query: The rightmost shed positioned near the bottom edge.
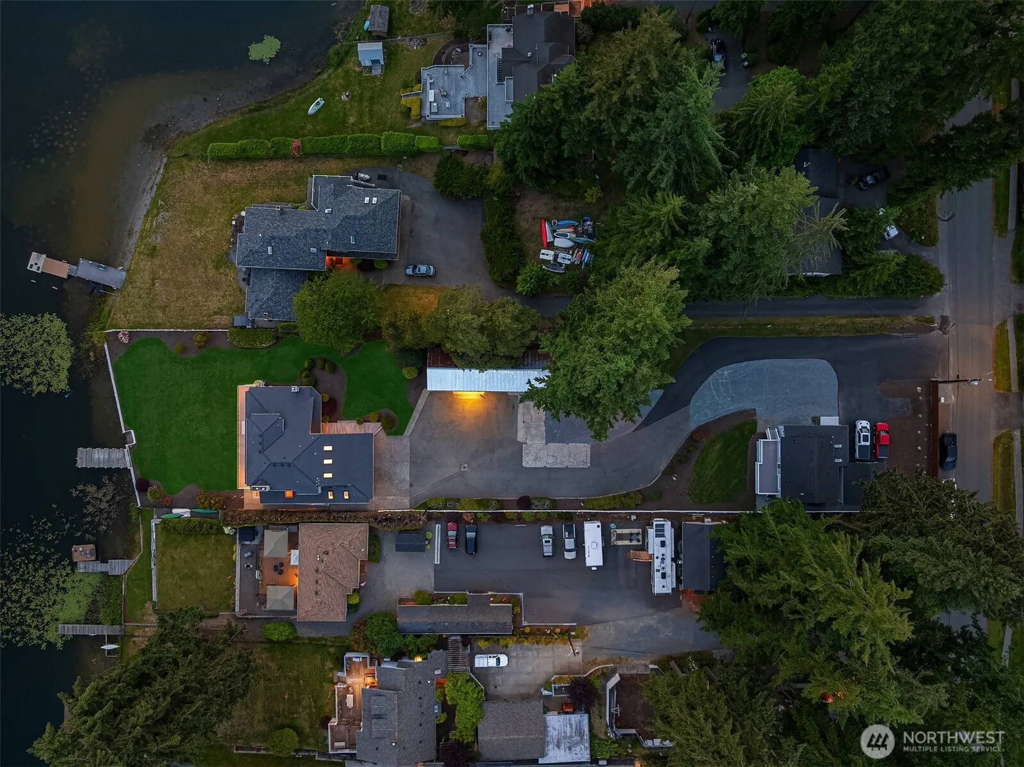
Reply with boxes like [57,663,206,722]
[542,710,589,762]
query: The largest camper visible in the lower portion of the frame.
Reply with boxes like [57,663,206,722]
[646,514,675,594]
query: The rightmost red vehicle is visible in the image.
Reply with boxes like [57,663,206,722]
[873,423,892,460]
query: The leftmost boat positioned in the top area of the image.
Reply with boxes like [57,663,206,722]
[307,98,324,117]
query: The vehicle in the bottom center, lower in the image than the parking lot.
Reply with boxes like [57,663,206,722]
[474,653,509,670]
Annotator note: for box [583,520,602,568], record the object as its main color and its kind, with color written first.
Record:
white trailer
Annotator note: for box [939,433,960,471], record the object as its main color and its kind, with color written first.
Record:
black truck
